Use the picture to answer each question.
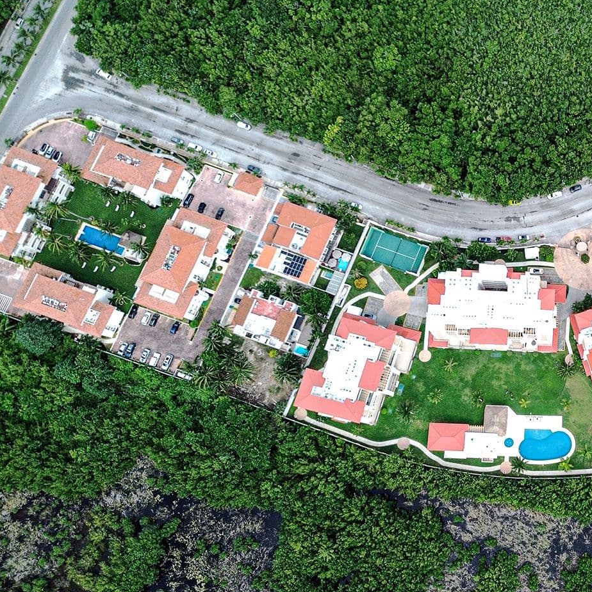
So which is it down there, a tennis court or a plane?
tennis court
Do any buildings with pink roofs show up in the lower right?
Yes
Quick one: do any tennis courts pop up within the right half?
Yes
